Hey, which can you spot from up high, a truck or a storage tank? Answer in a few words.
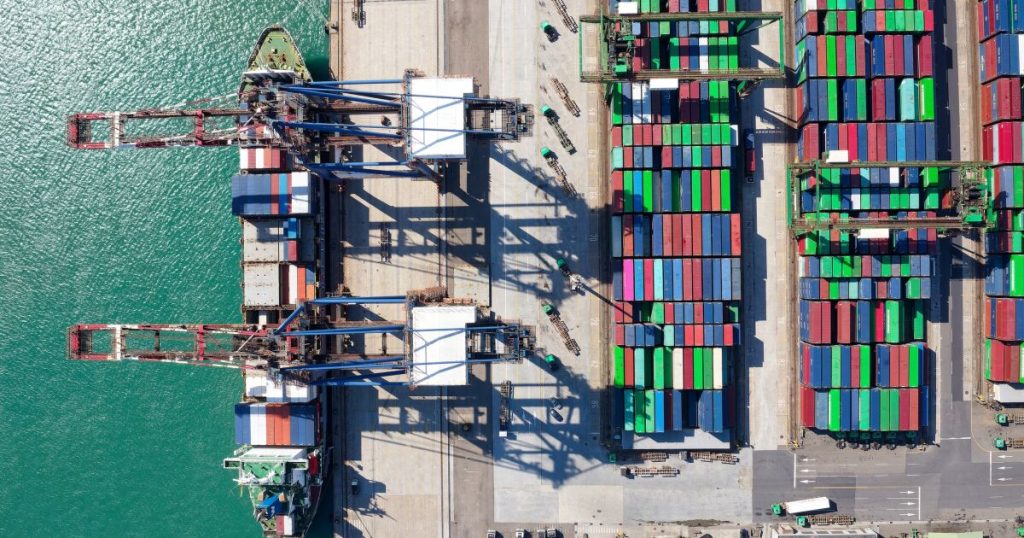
truck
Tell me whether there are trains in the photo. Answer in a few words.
No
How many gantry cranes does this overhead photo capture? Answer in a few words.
4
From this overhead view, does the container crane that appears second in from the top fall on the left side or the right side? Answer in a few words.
left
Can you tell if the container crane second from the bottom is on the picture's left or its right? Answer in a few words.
right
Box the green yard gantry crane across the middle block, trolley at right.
[785,150,993,256]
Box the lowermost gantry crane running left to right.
[65,286,538,386]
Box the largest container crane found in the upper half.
[66,75,536,197]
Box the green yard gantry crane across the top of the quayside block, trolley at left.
[579,2,784,102]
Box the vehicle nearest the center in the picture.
[555,257,573,279]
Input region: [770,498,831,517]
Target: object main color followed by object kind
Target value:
white vehicle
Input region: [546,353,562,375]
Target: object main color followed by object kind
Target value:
green vehicle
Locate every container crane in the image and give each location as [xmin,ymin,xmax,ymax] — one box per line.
[66,75,536,197]
[65,286,538,386]
[785,150,993,256]
[579,2,784,102]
